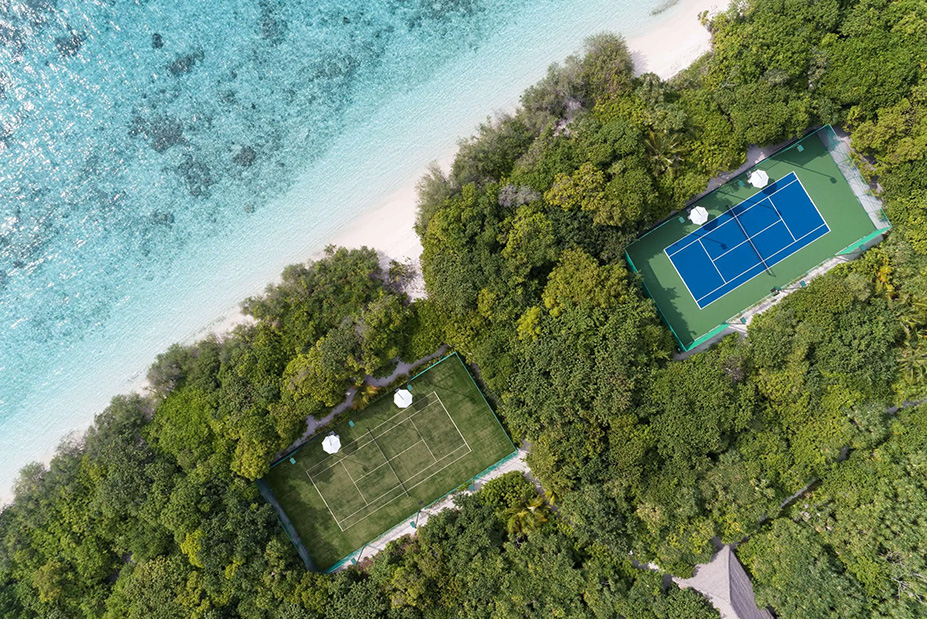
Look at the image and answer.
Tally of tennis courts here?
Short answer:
2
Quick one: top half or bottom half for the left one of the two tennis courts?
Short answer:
bottom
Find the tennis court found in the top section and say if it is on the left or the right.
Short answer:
right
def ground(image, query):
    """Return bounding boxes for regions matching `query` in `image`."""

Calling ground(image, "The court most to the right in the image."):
[625,133,876,347]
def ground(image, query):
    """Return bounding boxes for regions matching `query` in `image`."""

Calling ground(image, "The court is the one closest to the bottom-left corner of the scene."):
[263,353,512,571]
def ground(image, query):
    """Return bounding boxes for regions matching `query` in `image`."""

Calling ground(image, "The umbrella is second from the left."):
[393,385,414,407]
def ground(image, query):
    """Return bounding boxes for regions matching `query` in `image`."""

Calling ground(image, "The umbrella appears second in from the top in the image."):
[682,205,707,226]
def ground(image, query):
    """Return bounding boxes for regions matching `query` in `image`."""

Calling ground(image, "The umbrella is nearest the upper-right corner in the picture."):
[740,169,767,190]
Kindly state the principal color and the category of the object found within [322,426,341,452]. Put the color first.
white umbrella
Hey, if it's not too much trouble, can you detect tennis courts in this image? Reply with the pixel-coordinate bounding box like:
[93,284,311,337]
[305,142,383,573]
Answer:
[625,133,876,347]
[263,353,512,571]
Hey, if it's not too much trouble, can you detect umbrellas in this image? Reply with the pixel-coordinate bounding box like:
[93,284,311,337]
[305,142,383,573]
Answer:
[682,205,707,226]
[322,426,341,452]
[393,385,414,407]
[740,169,767,190]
